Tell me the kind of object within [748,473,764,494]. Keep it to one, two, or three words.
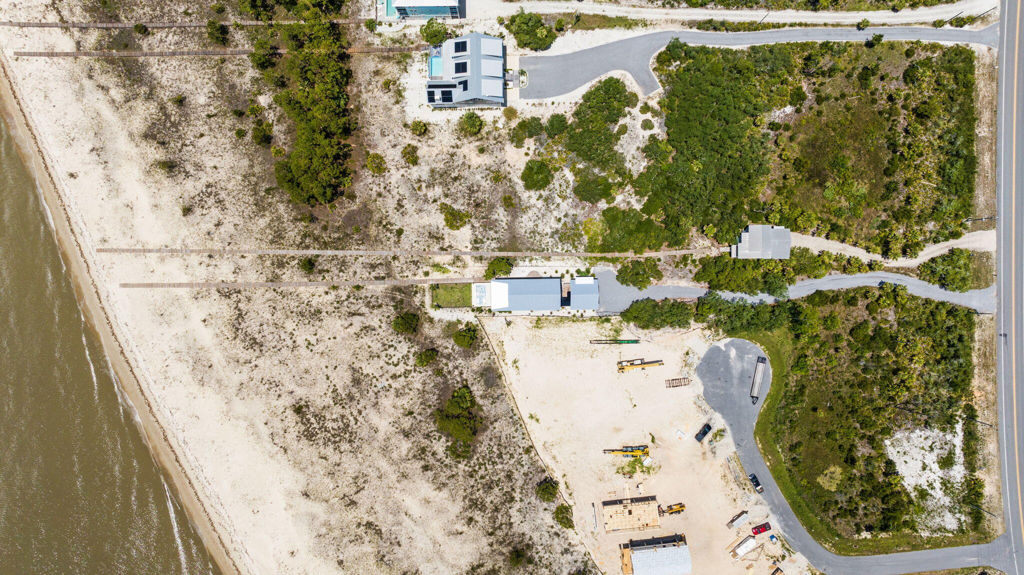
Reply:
vehicle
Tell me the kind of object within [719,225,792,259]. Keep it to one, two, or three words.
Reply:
house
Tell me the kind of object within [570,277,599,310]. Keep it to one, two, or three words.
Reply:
building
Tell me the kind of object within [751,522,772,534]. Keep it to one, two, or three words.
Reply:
vehicle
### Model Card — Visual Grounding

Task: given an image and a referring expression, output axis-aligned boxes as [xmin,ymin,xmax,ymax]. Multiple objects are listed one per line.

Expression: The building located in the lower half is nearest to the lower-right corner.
[616,537,693,575]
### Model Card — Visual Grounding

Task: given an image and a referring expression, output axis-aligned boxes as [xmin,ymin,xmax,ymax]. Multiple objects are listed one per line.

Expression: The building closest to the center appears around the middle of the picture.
[472,280,570,311]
